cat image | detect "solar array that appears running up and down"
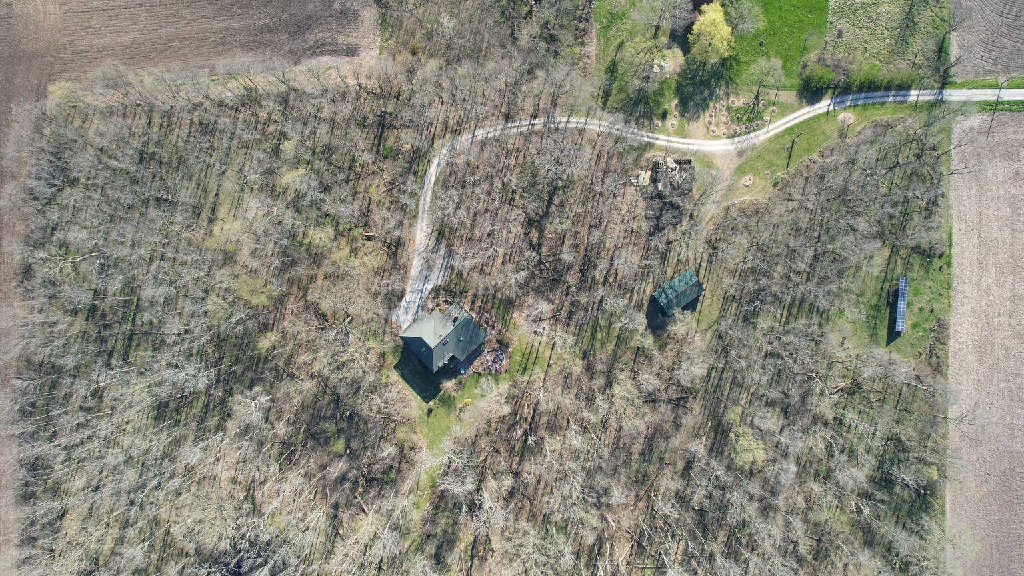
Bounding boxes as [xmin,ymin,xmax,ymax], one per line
[894,277,908,331]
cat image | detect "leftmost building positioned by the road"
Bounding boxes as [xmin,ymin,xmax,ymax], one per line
[399,302,485,372]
